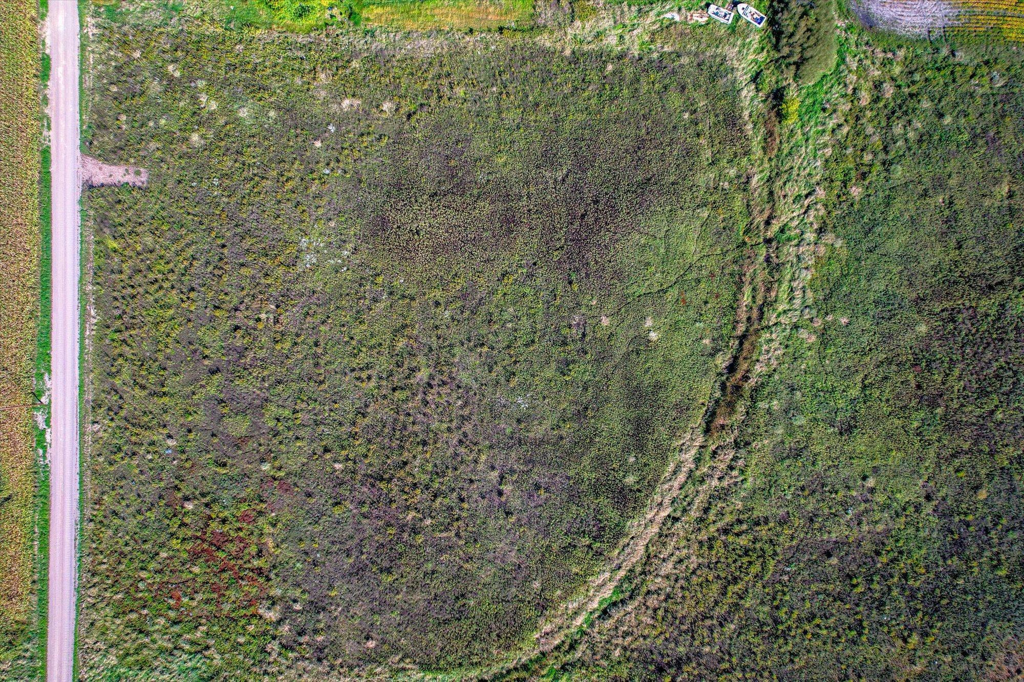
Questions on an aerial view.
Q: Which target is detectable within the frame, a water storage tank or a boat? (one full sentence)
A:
There is a boat in the scene.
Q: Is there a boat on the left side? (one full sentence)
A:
No, I see no boat on the left side.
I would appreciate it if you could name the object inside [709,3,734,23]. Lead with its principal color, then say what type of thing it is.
white boat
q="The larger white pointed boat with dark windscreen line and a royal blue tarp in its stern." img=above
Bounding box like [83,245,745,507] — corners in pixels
[738,2,767,26]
